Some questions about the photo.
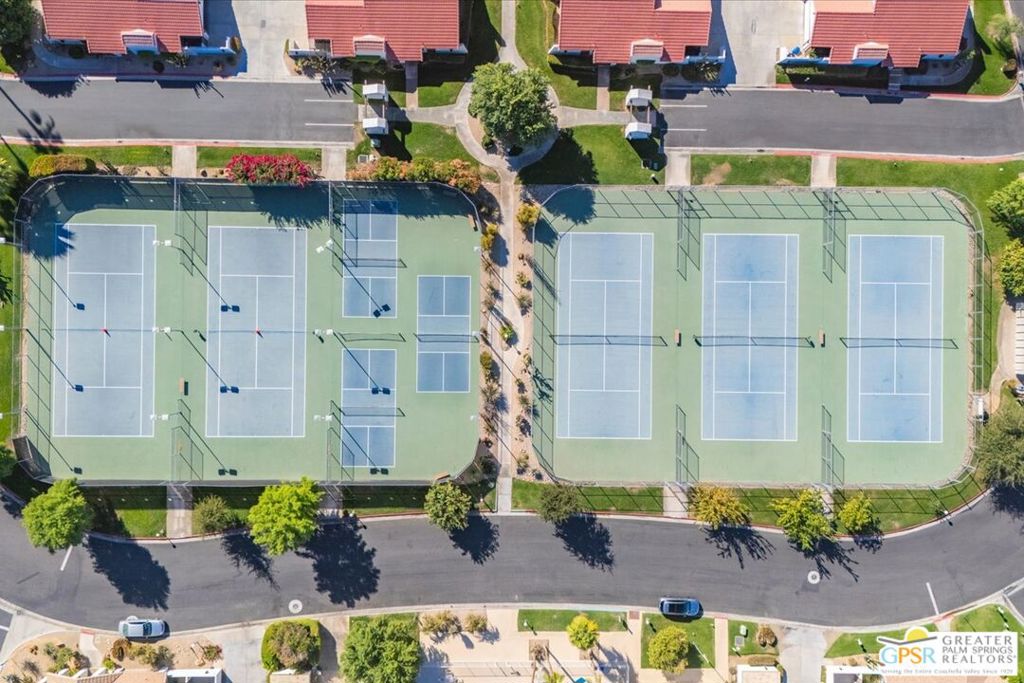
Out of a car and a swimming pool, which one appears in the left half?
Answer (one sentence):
It is a car that can be seen in the left half.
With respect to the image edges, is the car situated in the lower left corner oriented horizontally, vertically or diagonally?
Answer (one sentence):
Seen from above, the car situated in the lower left corner lies horizontally.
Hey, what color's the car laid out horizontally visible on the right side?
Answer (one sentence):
In this view, the car laid out horizontally visible on the right side is blue.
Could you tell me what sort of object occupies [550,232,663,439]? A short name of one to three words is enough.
tennis court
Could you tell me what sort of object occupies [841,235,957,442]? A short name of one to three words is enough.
tennis court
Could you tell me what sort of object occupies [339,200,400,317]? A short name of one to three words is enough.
sports court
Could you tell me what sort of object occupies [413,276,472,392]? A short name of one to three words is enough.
sports court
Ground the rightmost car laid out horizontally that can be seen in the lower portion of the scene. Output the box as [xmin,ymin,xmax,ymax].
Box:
[660,597,702,618]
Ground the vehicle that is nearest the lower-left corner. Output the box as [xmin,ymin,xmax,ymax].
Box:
[119,618,161,639]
